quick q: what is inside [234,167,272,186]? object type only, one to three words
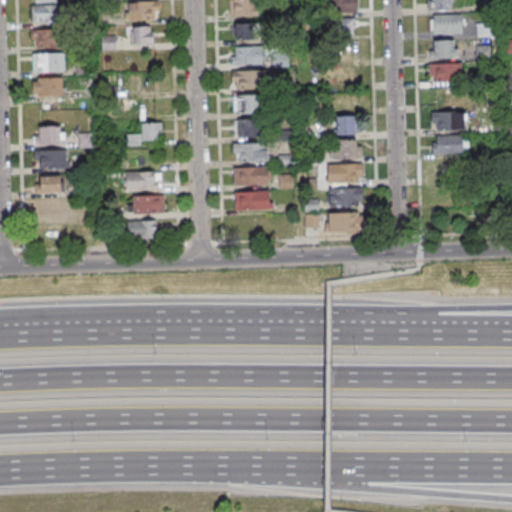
house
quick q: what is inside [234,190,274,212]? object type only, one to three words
house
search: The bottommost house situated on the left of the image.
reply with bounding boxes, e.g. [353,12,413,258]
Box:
[128,220,157,241]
